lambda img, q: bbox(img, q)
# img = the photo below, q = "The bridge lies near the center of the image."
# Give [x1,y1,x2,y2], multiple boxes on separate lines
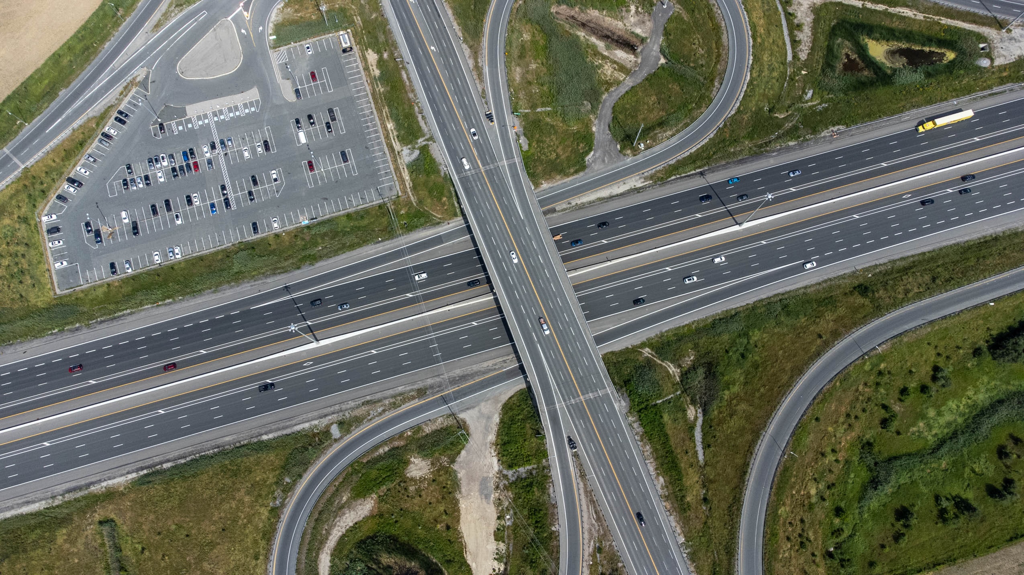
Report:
[449,160,618,411]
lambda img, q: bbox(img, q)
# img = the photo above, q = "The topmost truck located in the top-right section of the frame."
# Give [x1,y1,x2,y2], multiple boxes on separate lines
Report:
[918,108,976,130]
